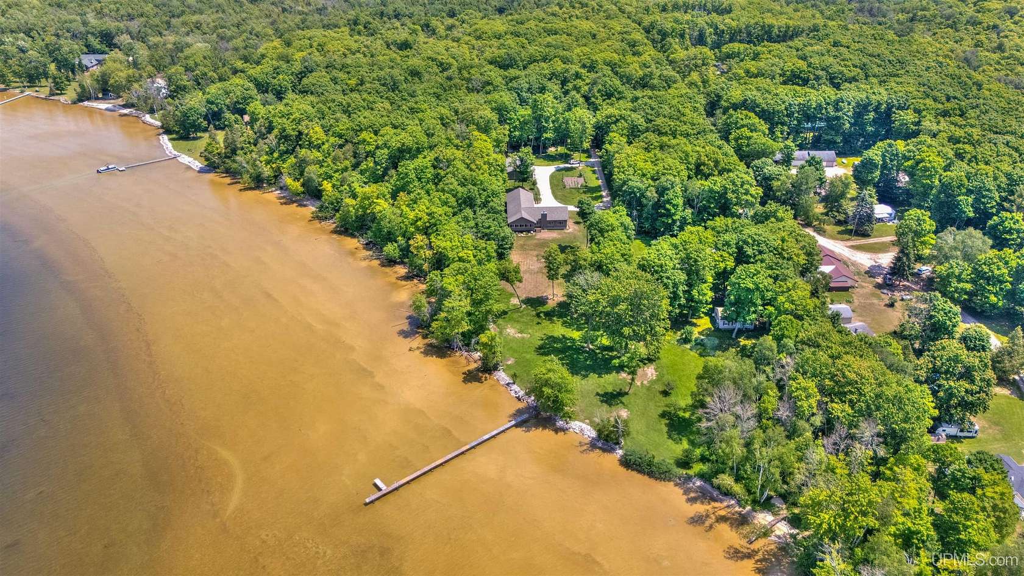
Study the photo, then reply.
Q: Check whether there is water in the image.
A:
Yes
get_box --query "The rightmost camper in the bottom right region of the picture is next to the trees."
[937,419,978,439]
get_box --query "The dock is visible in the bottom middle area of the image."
[366,412,541,509]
